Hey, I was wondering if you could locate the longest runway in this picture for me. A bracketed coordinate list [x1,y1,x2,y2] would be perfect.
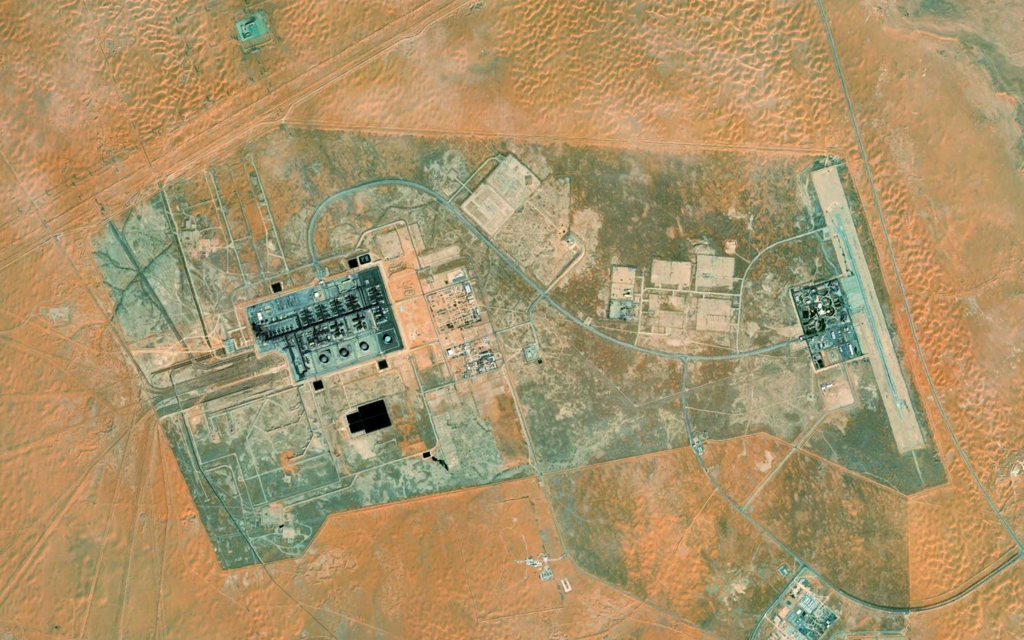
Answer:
[811,167,924,453]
